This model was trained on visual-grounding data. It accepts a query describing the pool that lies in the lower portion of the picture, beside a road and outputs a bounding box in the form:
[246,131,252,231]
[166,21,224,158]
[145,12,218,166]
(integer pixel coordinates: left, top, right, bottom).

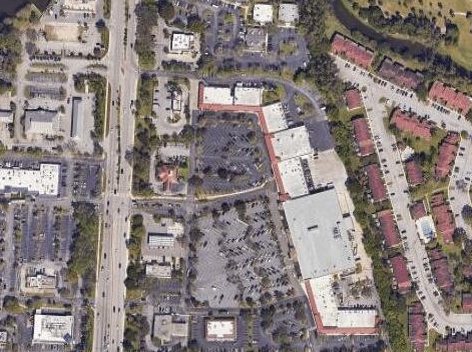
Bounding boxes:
[417,217,436,240]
